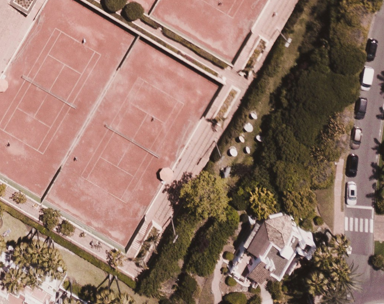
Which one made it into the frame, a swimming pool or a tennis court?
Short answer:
tennis court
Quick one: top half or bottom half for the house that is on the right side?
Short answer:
bottom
